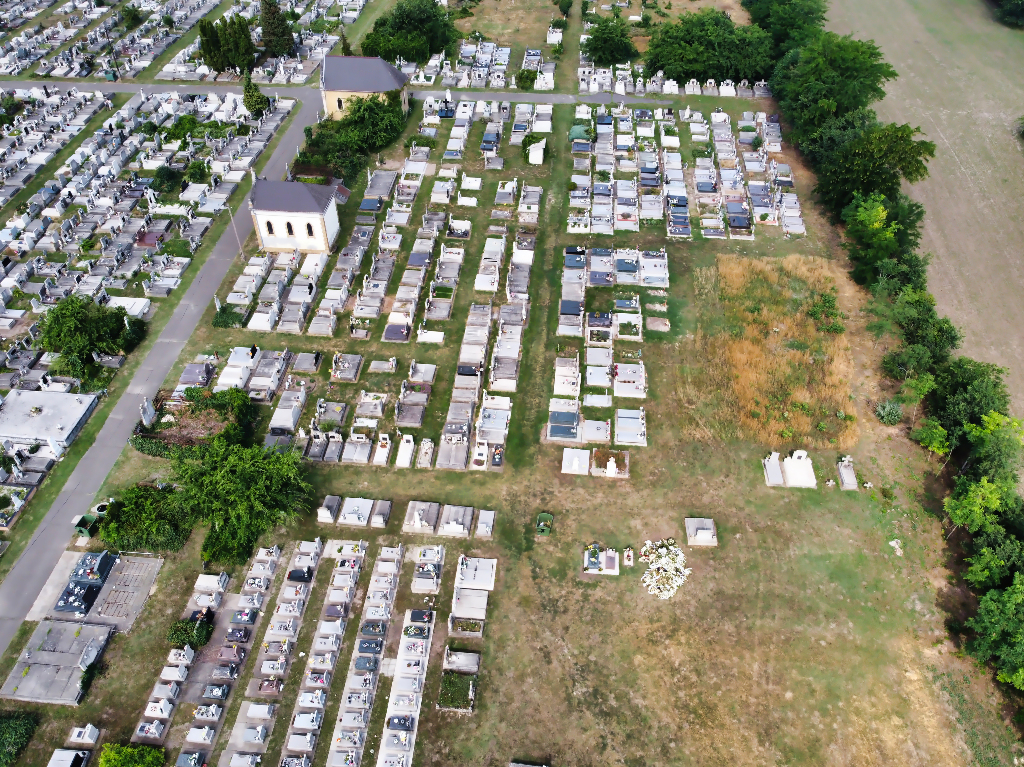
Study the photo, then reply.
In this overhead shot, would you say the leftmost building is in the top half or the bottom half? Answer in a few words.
top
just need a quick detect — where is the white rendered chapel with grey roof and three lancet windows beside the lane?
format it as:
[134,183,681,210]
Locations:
[245,159,343,254]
